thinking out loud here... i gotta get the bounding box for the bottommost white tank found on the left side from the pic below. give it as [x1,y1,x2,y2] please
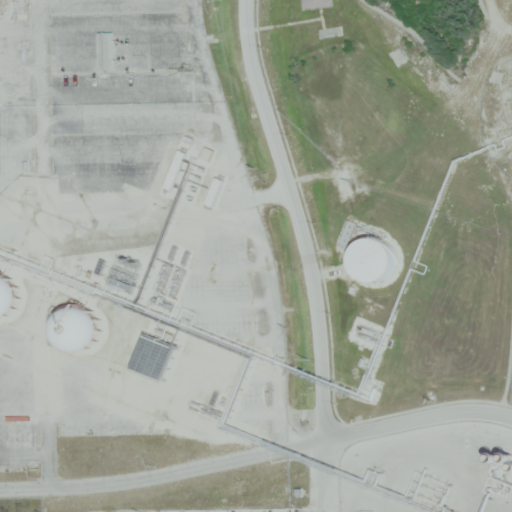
[46,298,106,356]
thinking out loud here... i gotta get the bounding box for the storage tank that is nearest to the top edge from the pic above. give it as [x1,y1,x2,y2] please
[344,230,398,284]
